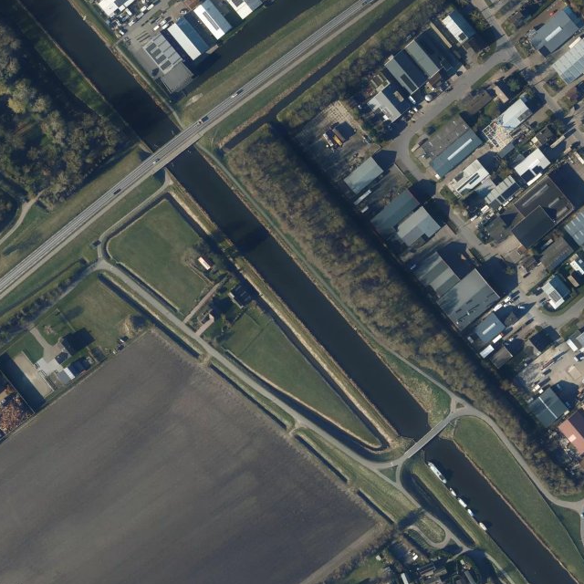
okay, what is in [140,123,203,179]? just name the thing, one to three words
bridge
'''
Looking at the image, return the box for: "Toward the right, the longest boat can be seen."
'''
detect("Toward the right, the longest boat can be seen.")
[428,462,446,482]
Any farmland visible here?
Yes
